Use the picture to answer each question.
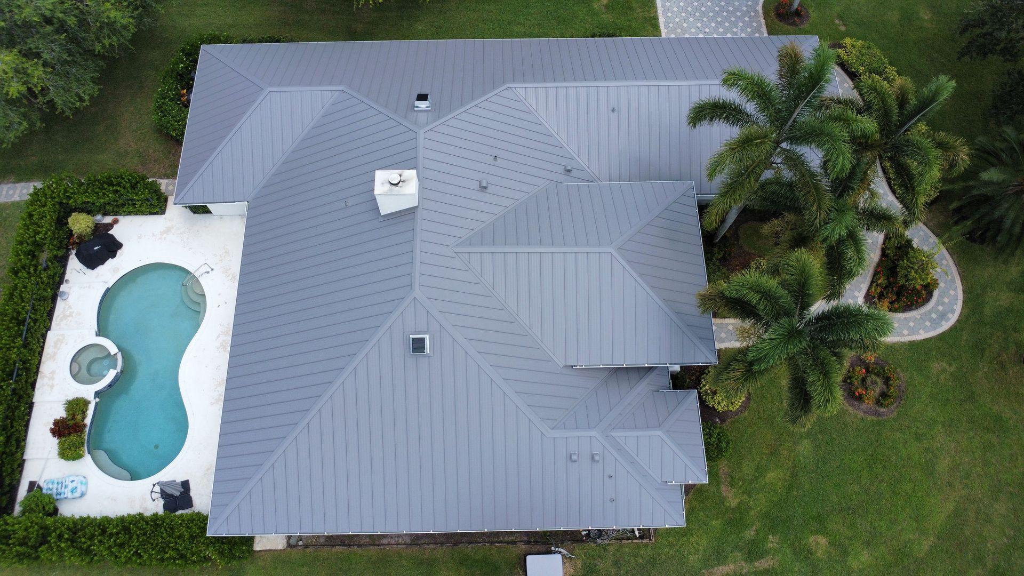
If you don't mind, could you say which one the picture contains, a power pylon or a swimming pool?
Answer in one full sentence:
It is a swimming pool that can be seen here.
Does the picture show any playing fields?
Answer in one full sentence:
No, the picture doesn't show any playing field.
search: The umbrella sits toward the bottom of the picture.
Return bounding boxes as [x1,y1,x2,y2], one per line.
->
[150,479,194,513]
